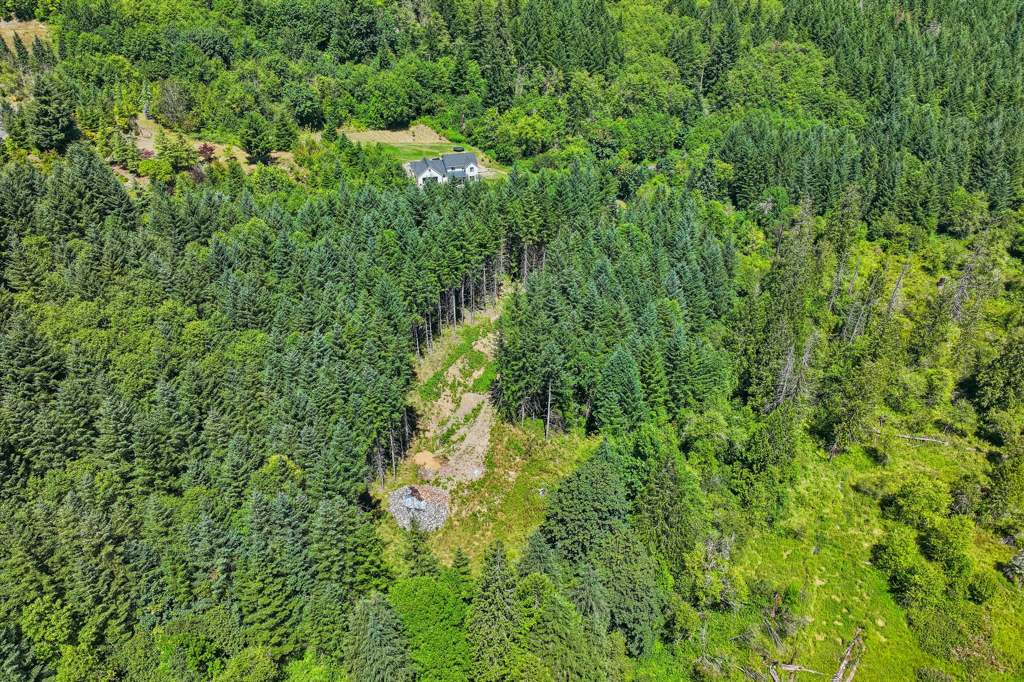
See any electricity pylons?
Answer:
No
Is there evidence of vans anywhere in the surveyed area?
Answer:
No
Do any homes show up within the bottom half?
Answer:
No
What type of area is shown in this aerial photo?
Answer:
forest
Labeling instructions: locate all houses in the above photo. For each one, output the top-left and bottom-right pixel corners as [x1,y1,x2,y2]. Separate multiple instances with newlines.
[409,153,480,185]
